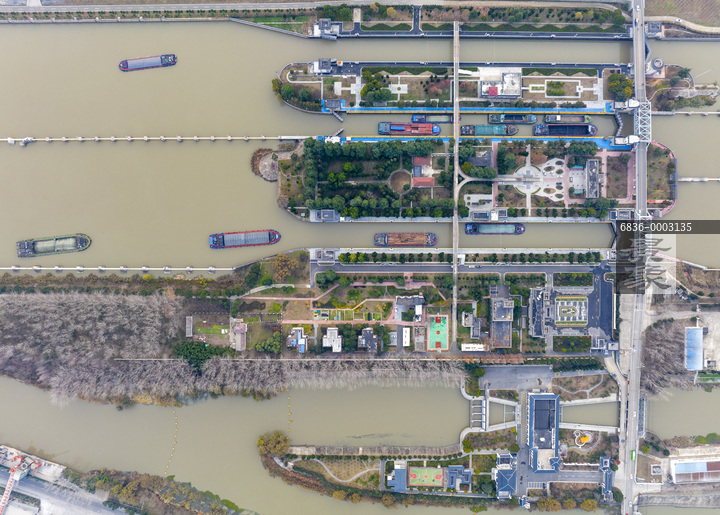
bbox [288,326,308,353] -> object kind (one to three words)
house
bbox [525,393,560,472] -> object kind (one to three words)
building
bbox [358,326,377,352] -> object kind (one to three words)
house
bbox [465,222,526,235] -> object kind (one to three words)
ship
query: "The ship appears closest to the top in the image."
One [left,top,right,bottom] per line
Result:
[117,54,178,70]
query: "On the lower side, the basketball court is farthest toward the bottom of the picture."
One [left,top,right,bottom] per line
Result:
[408,466,444,486]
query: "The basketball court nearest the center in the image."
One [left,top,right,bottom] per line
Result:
[428,314,449,352]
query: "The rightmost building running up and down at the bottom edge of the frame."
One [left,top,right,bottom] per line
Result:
[598,454,611,500]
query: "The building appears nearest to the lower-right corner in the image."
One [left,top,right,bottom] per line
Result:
[666,456,720,484]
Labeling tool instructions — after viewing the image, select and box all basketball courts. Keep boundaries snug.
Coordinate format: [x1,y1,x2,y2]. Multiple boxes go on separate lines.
[428,314,449,352]
[408,466,444,486]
